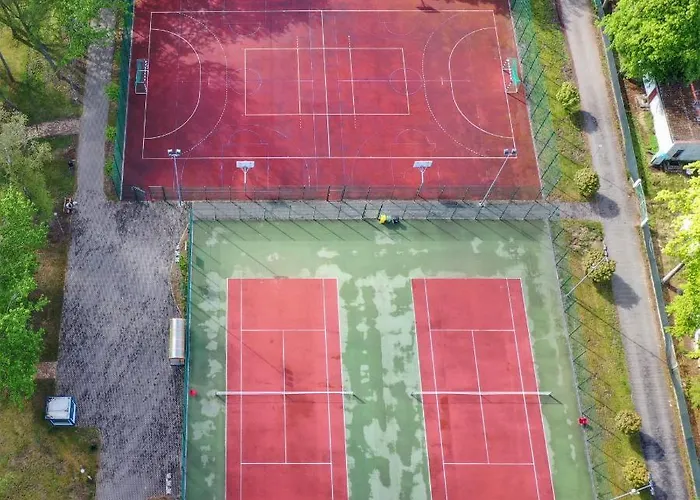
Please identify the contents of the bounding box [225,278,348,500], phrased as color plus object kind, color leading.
red tennis court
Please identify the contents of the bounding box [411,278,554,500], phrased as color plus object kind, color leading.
red tennis court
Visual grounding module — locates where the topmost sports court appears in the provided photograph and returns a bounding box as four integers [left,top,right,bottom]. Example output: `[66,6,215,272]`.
[120,0,543,201]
